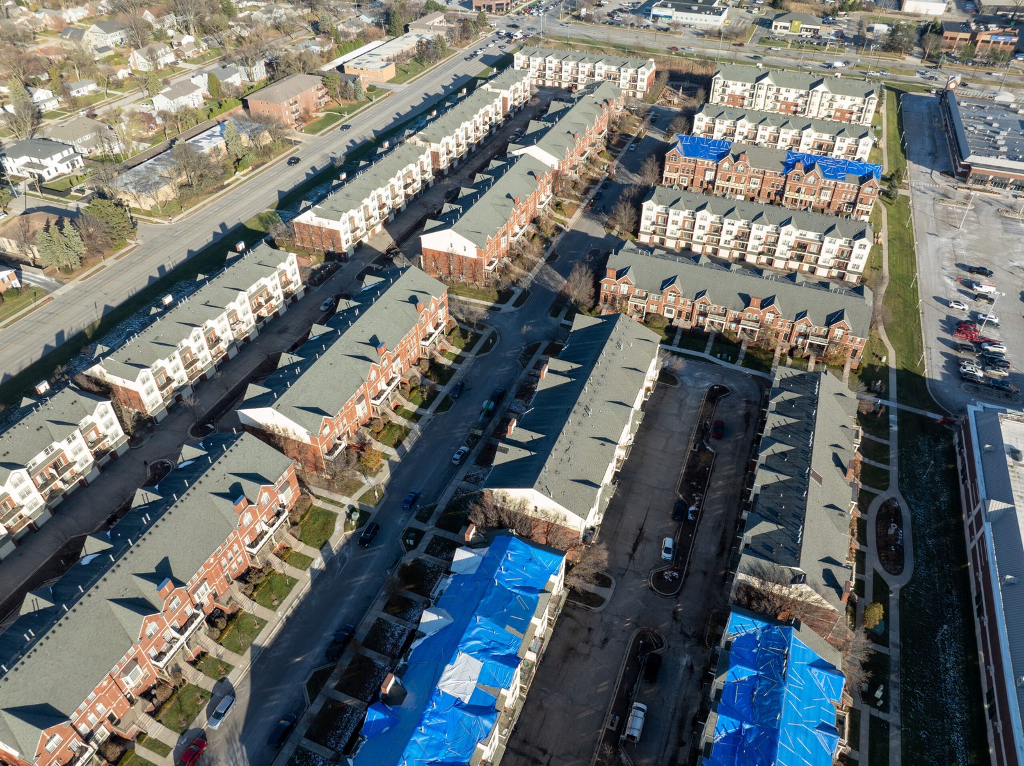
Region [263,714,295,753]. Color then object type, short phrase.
black car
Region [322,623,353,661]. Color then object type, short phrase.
black truck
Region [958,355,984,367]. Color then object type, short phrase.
gray vehicle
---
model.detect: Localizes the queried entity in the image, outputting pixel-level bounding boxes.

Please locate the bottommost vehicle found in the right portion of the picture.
[623,700,649,744]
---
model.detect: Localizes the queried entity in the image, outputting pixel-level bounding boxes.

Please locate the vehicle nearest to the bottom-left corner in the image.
[173,732,208,766]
